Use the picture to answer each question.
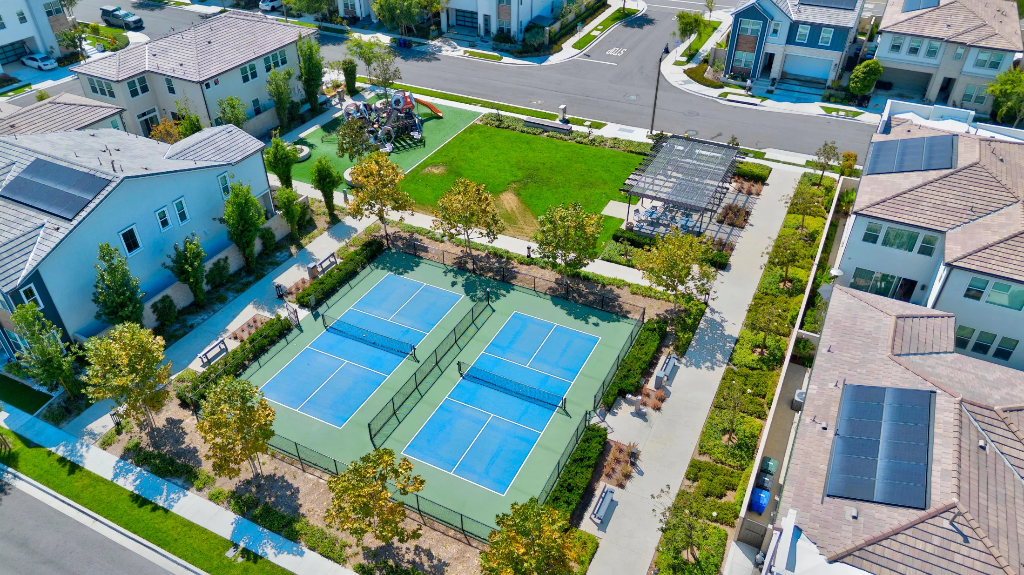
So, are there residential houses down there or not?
Yes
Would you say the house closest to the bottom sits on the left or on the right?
right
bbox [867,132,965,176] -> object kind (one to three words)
solar array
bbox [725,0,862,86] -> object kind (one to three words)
house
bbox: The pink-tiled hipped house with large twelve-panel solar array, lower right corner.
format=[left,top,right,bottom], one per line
[754,285,1024,575]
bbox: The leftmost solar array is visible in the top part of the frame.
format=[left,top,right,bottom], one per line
[0,150,108,216]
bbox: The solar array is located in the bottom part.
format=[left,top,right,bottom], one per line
[825,381,939,512]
